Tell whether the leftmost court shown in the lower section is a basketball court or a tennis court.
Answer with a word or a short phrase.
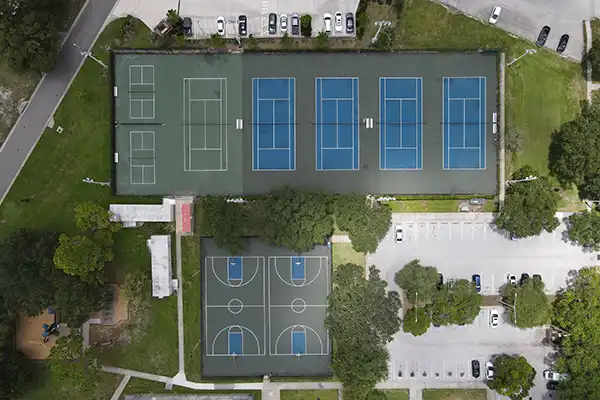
basketball court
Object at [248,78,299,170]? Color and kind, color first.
blue tennis court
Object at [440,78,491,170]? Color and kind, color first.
blue tennis court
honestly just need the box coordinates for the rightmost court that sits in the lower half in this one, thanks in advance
[268,257,328,355]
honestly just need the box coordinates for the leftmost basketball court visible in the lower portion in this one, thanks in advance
[206,257,265,355]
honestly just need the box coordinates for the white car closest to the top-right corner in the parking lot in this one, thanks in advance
[488,5,502,25]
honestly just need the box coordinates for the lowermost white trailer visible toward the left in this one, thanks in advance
[148,235,181,297]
